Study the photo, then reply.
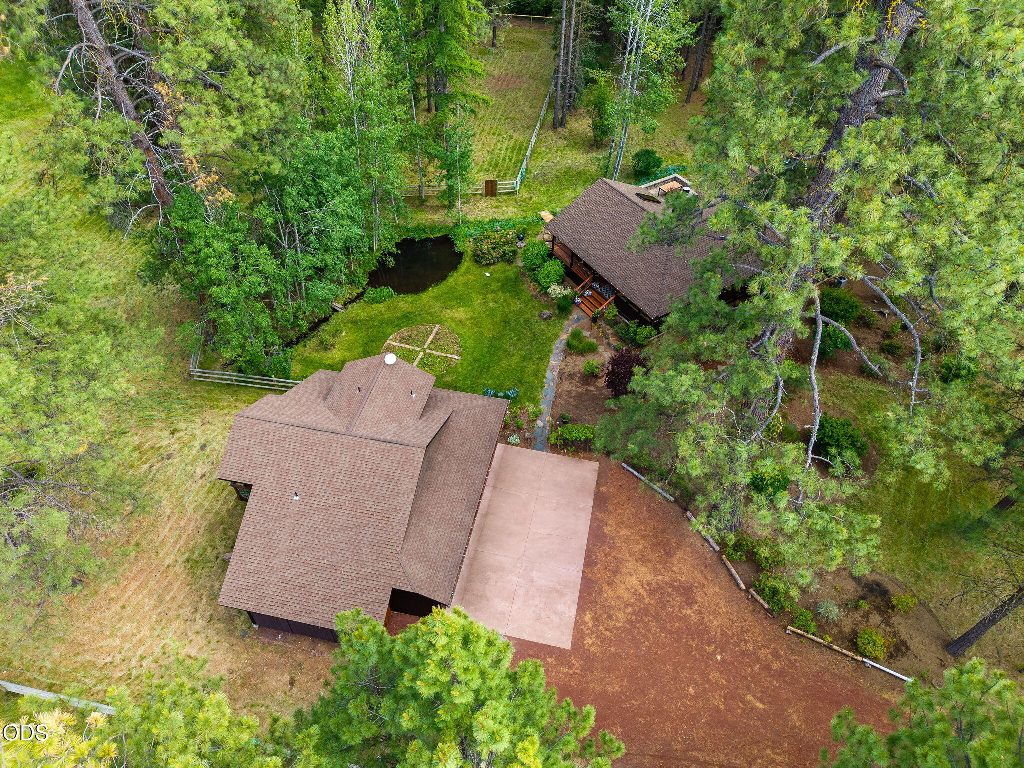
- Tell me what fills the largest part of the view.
trees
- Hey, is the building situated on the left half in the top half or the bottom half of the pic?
bottom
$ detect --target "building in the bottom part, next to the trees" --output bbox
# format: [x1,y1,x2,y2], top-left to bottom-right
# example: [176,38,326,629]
[217,354,512,649]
